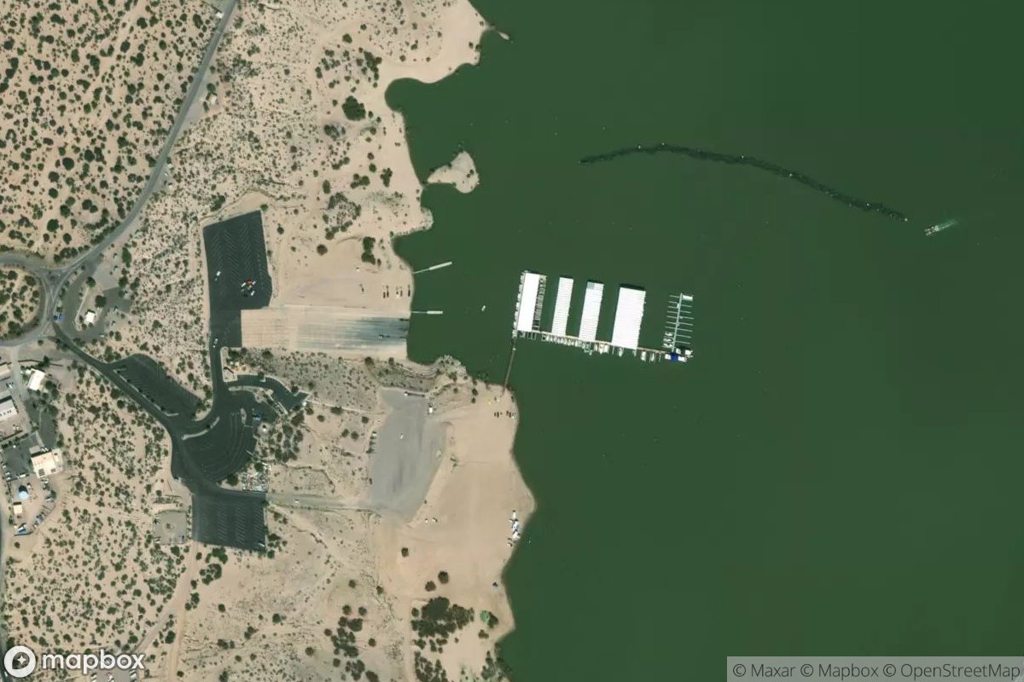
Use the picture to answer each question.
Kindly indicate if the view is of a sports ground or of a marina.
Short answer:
marina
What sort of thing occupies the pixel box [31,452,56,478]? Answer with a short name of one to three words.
building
